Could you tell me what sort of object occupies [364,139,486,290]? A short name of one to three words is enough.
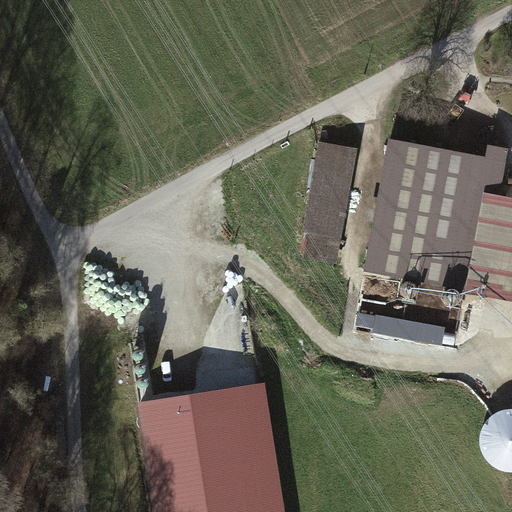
barn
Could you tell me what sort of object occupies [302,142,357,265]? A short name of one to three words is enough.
shed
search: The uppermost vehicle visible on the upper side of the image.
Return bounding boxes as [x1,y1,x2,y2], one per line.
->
[458,76,478,106]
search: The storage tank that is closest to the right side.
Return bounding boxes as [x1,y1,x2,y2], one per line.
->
[480,410,512,473]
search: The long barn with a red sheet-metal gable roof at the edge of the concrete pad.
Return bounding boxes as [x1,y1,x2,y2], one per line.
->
[138,384,286,512]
